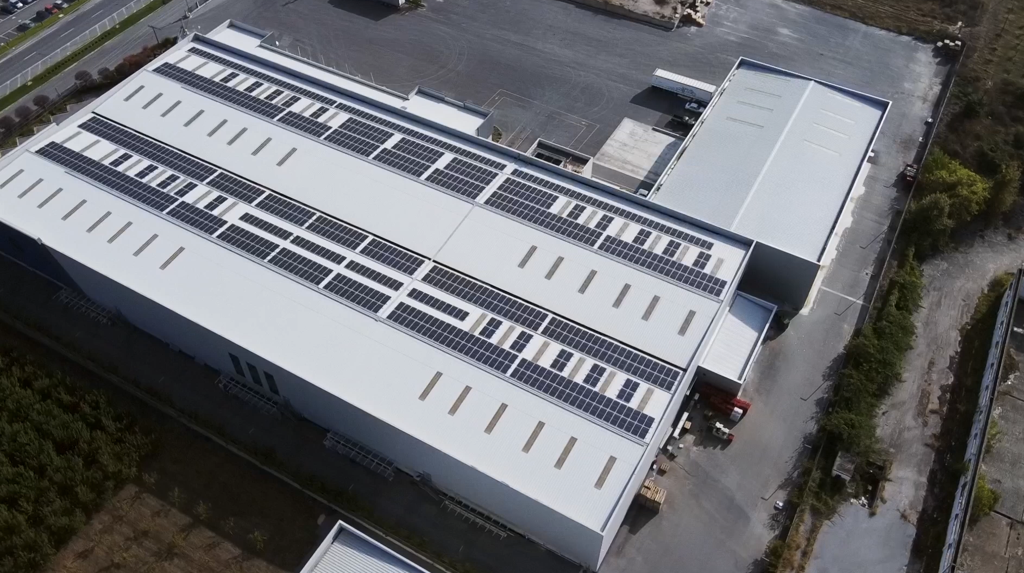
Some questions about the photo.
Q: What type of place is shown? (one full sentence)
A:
What you see here is an industrial area.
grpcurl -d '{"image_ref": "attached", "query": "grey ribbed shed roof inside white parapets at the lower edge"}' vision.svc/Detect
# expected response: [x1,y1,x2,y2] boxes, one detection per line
[300,520,431,573]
